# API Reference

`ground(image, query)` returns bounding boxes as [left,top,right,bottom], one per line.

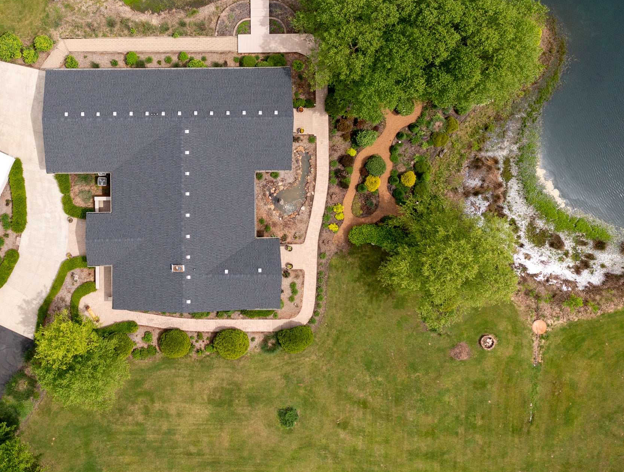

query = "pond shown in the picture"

[264,144,317,222]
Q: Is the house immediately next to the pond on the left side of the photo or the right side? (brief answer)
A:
left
